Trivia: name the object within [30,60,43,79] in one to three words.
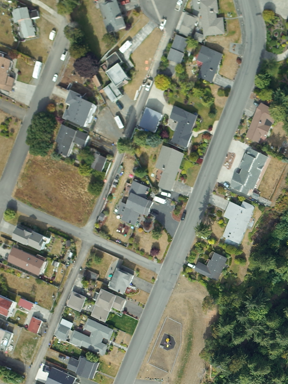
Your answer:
vehicle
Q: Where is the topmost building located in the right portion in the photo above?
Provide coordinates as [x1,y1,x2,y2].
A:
[179,0,226,45]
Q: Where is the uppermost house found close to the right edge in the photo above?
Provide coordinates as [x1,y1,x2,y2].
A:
[245,101,274,142]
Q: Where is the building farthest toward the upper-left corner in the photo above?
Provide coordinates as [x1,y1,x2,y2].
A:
[11,7,42,41]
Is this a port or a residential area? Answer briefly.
residential area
